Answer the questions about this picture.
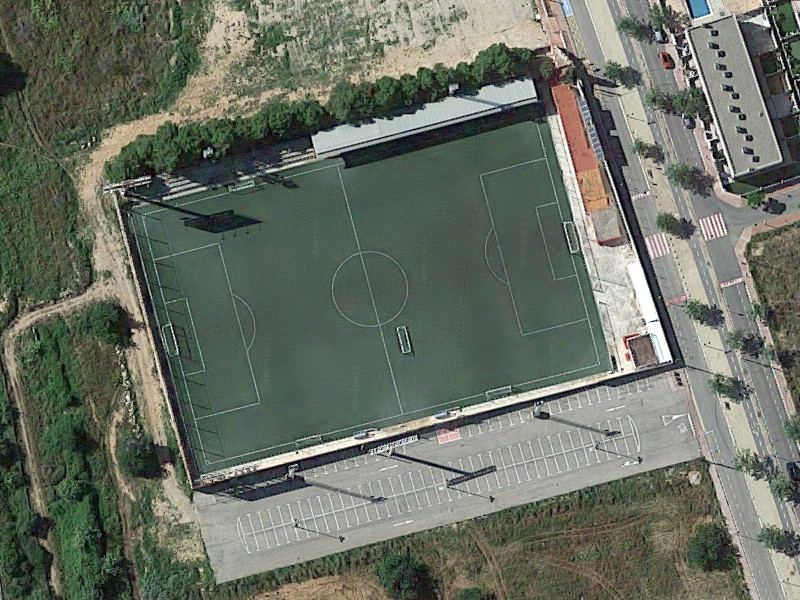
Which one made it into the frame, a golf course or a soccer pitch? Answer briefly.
soccer pitch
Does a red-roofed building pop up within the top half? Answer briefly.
Yes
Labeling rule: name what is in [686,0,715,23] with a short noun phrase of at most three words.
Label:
swimming pool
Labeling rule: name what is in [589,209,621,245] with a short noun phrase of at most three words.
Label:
building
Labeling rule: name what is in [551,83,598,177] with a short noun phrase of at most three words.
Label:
building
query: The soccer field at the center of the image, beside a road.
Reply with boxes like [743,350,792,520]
[122,108,612,473]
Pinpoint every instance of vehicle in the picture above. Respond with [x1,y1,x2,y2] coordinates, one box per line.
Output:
[652,26,664,44]
[683,112,694,130]
[788,460,799,479]
[662,51,673,69]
